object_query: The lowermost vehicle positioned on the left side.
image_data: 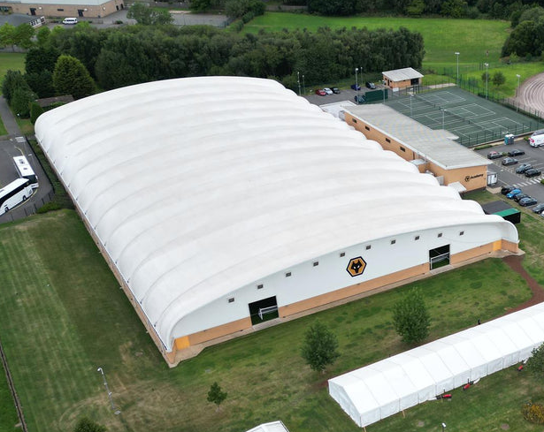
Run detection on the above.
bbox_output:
[0,179,40,213]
